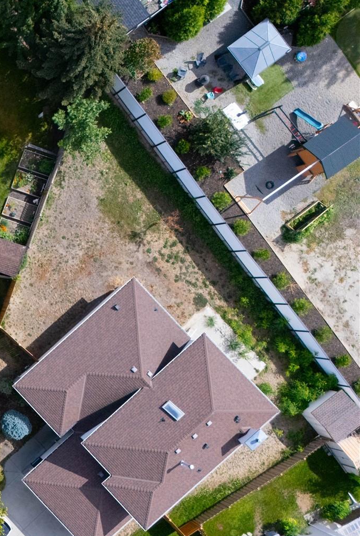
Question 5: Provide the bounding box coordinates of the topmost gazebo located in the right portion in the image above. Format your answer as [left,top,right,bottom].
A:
[213,19,293,86]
